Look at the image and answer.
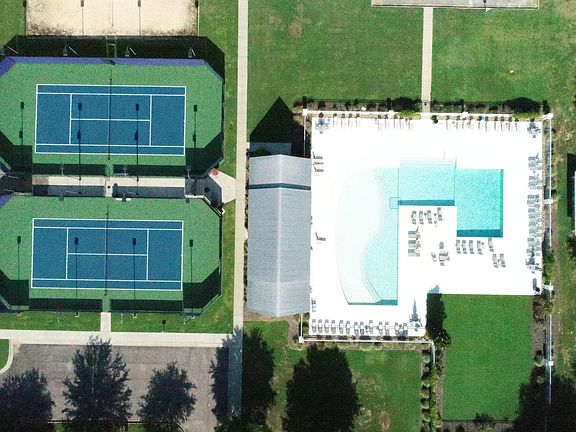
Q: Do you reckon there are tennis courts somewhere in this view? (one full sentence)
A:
Yes, the image includes a tennis court.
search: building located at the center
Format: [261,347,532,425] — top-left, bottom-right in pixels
[246,155,312,317]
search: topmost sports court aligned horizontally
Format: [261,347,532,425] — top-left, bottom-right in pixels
[25,0,199,38]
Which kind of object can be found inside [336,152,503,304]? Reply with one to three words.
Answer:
swimming pool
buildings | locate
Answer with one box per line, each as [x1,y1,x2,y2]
[246,155,312,317]
[567,170,576,230]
